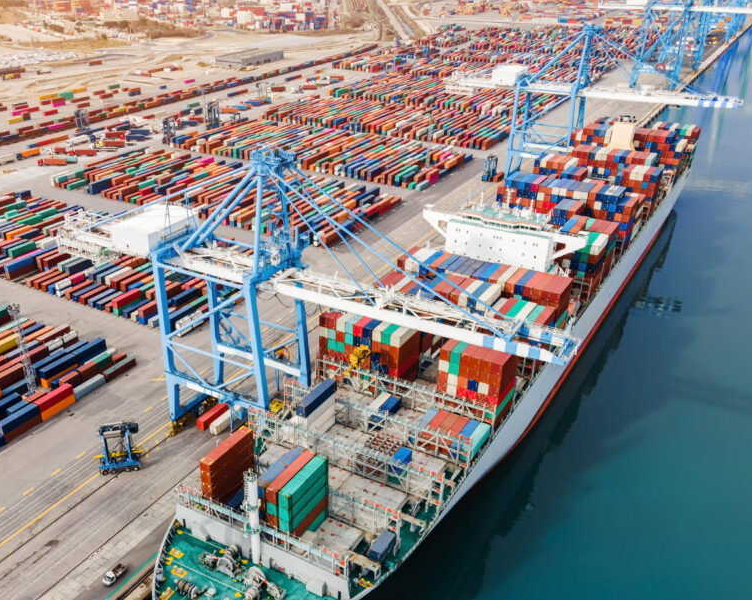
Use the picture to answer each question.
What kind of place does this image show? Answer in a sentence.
What you see here is a port.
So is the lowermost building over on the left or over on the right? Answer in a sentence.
The lowermost building appears in the left half of the scene.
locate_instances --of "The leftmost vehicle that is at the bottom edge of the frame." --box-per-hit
[98,570,125,593]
